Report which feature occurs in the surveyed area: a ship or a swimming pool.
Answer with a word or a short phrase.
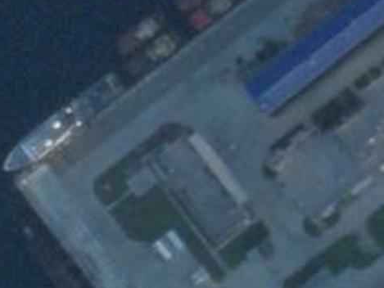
ship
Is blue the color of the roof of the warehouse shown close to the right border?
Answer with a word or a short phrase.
Yes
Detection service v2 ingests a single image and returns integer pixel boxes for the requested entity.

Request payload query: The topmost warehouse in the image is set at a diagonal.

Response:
[245,0,384,112]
